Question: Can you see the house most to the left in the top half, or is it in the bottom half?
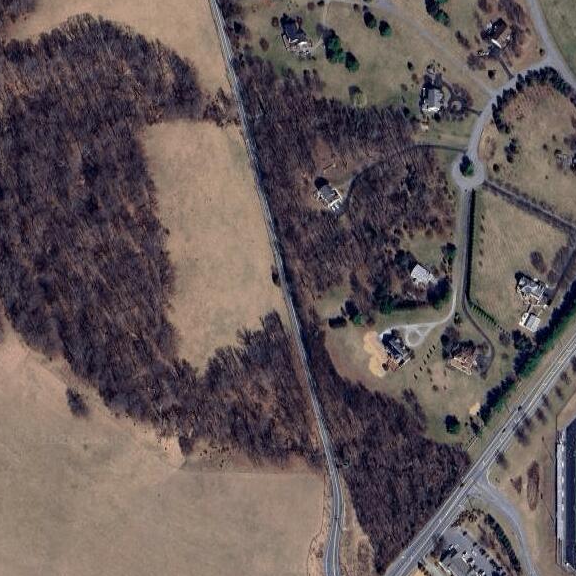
top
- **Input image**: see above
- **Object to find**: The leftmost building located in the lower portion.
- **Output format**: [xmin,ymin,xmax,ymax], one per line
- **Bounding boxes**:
[380,334,408,367]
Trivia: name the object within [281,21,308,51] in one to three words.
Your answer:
house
